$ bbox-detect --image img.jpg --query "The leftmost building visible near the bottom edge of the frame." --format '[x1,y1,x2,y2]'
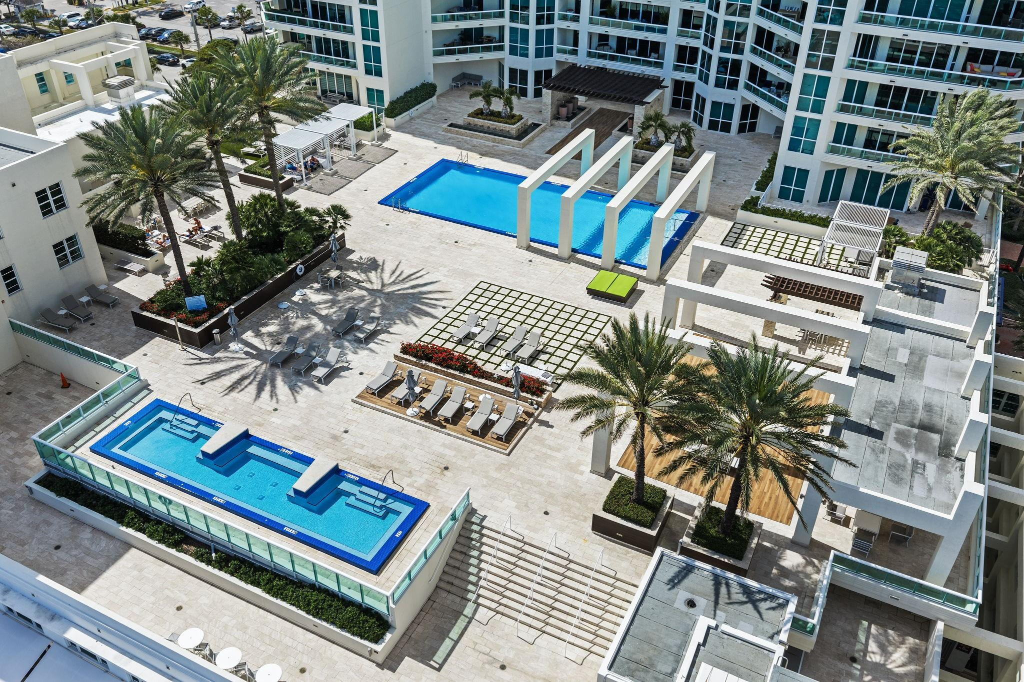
[0,570,216,682]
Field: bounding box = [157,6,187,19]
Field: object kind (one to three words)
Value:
vehicle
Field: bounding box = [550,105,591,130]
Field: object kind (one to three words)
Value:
fountain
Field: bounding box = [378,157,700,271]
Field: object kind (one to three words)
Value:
swimming pool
